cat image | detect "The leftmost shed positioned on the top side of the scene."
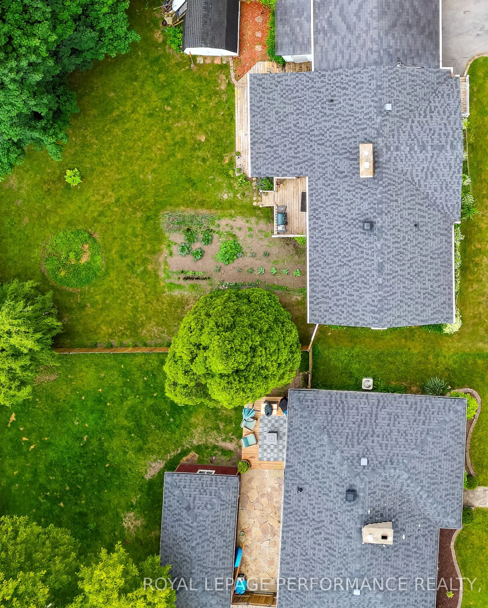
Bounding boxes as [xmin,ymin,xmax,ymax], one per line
[184,0,242,58]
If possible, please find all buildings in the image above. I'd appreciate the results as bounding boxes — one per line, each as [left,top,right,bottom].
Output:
[276,385,467,608]
[162,463,242,608]
[247,0,466,330]
[184,0,242,58]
